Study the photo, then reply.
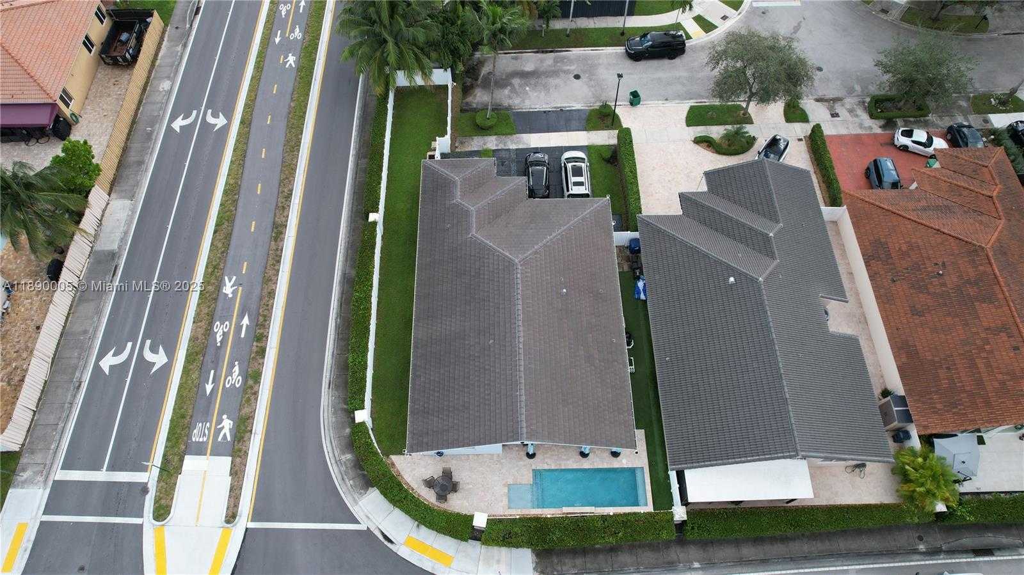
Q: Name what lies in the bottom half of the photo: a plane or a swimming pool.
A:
swimming pool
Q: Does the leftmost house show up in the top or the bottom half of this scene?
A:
top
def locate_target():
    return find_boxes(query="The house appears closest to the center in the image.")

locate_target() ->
[404,157,640,458]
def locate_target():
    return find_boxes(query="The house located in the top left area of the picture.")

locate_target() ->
[0,0,113,134]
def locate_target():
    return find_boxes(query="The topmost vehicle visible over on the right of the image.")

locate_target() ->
[625,30,686,62]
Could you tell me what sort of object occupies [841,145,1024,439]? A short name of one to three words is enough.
house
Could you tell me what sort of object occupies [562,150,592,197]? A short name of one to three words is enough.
car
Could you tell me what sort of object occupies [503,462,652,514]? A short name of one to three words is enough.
swimming pool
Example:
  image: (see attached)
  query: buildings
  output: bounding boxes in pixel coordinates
[636,160,896,470]
[404,157,640,458]
[841,145,1024,439]
[0,0,113,134]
